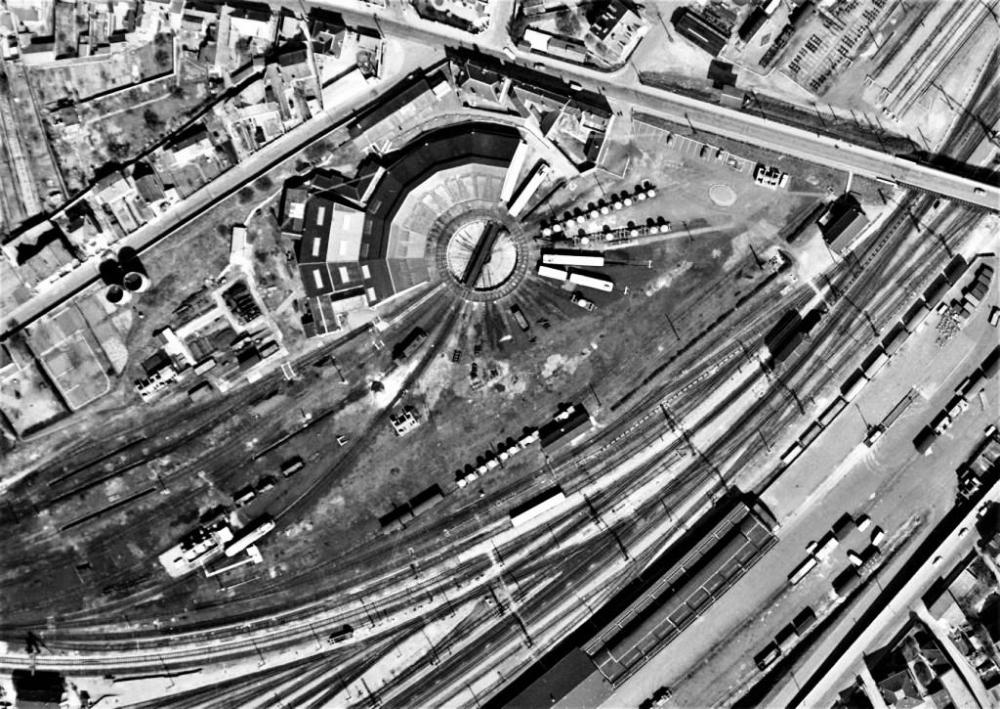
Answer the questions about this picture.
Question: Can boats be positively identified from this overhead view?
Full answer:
No, there appears to be no boat in this shot.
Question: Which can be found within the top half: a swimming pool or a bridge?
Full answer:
The feature located within the top half is a bridge.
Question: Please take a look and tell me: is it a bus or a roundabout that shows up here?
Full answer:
The one in the frame is a bus.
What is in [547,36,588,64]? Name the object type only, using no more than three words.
house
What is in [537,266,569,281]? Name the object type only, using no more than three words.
vehicle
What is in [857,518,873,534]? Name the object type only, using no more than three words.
vehicle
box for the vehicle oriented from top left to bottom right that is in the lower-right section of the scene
[848,553,864,566]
